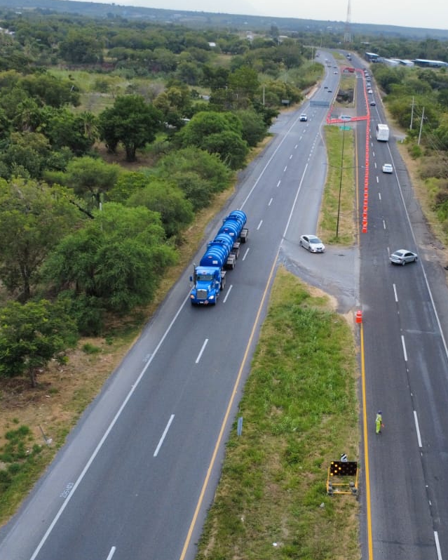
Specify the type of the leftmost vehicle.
truck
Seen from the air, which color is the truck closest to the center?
blue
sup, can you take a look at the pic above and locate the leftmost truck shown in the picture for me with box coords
[193,208,254,301]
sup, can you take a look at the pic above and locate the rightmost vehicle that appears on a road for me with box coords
[391,250,422,266]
